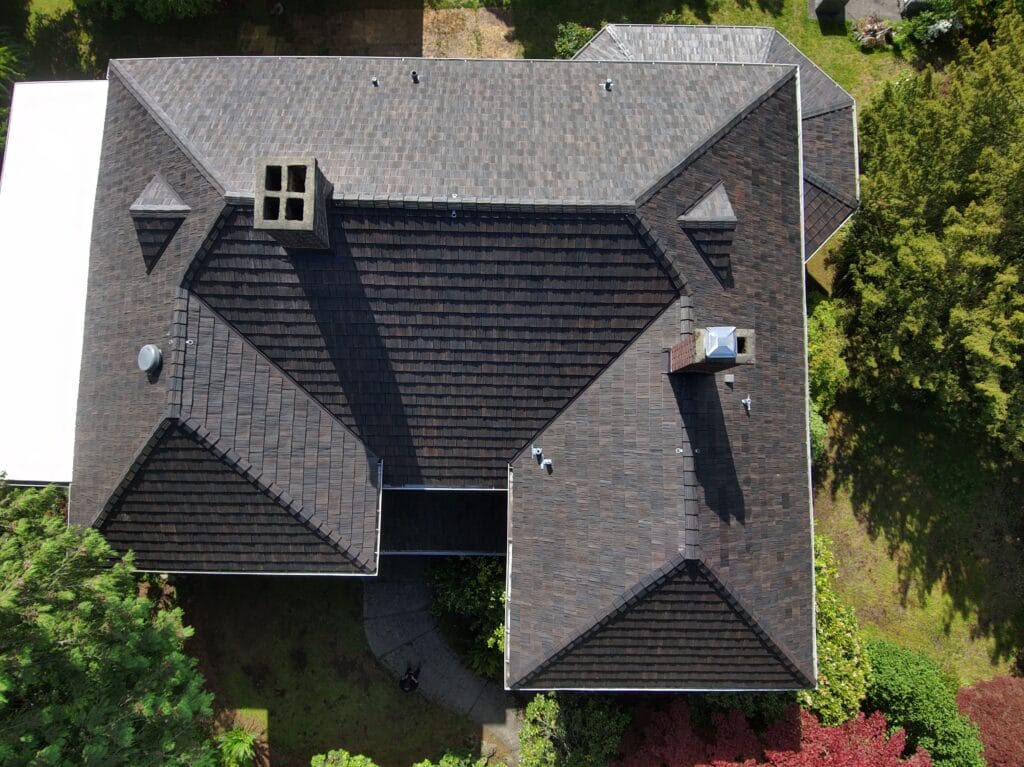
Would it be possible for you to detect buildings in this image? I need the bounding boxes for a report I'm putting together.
[0,22,863,694]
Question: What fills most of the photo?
buildings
